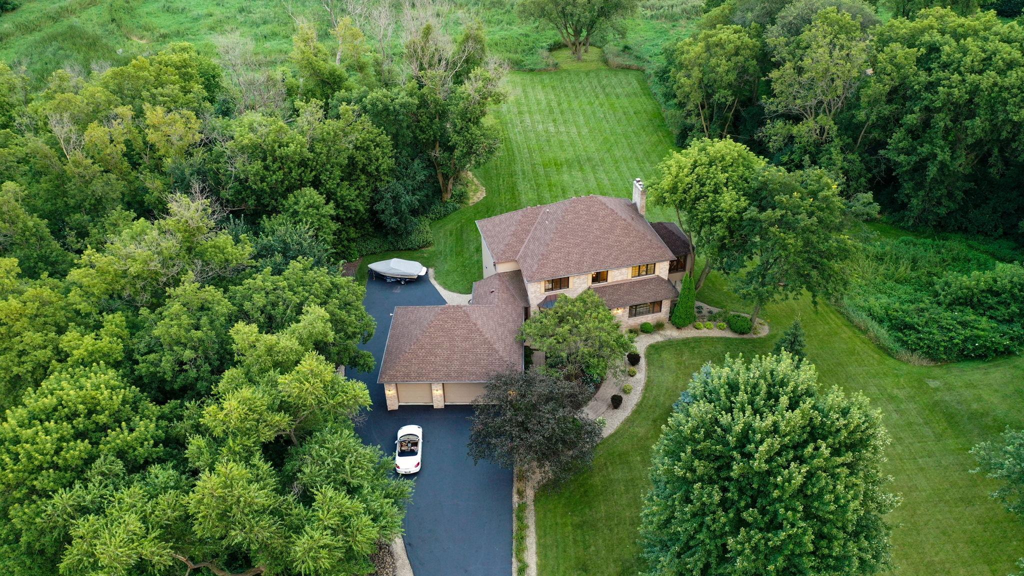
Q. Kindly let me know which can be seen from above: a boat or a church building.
boat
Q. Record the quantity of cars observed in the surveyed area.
1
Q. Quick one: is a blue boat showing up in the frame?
No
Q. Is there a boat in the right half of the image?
No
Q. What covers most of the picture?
trees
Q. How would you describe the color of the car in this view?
white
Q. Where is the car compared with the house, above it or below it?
below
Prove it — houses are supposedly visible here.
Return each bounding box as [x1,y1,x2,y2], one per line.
[377,182,699,408]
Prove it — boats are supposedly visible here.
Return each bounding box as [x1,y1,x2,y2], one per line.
[359,256,427,284]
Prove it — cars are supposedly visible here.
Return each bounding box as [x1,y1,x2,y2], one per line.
[394,426,426,476]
